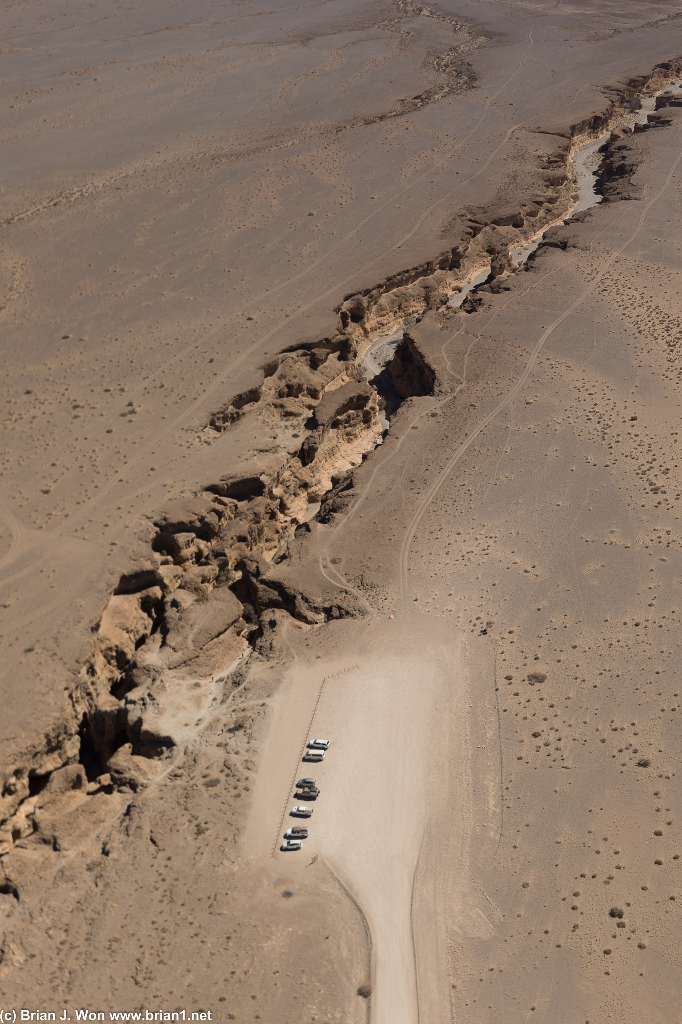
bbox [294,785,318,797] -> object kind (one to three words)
vehicle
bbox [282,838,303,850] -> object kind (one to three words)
vehicle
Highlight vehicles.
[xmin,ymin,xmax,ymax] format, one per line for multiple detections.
[282,838,303,850]
[297,777,316,787]
[289,804,313,816]
[294,785,318,797]
[308,737,331,749]
[284,825,309,837]
[304,748,325,759]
